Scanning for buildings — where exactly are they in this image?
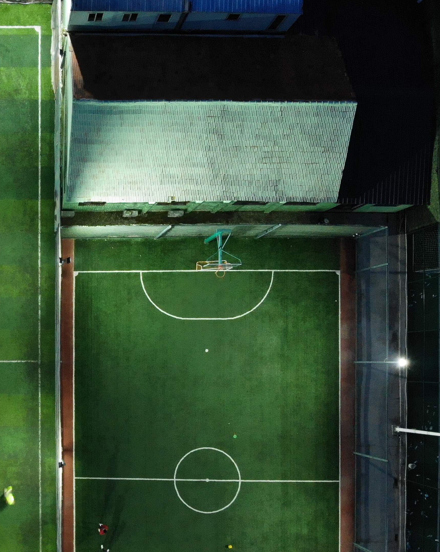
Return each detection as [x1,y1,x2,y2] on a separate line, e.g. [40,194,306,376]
[65,34,358,216]
[68,0,189,33]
